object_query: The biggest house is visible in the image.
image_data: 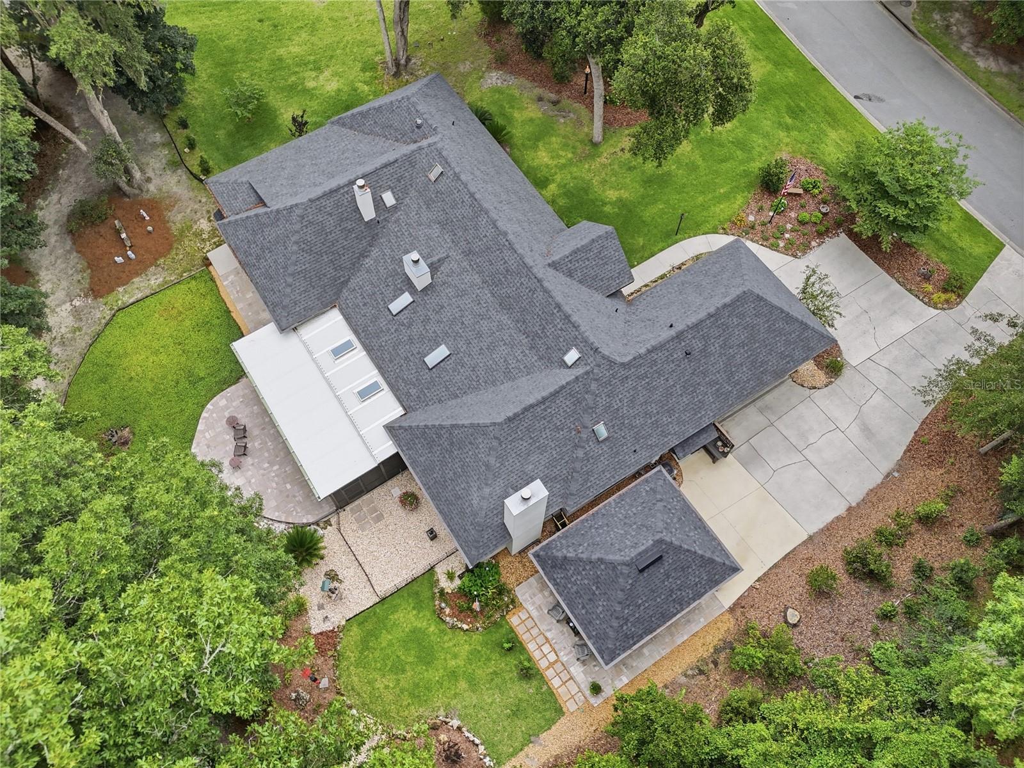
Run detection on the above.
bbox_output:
[202,72,838,570]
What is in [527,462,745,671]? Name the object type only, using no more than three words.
building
